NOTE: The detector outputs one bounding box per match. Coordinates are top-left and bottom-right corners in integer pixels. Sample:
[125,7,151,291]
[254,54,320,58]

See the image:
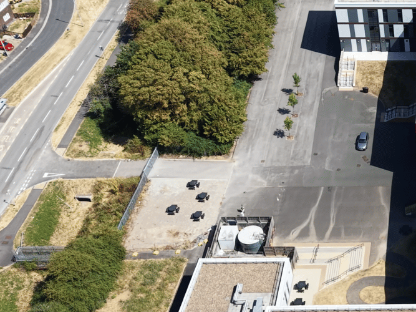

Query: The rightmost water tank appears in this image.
[238,227,267,259]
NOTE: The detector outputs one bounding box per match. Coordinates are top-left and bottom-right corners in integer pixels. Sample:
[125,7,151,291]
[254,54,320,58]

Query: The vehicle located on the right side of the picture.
[356,128,369,147]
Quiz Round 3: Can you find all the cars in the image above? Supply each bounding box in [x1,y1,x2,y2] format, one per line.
[356,128,369,147]
[0,39,14,51]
